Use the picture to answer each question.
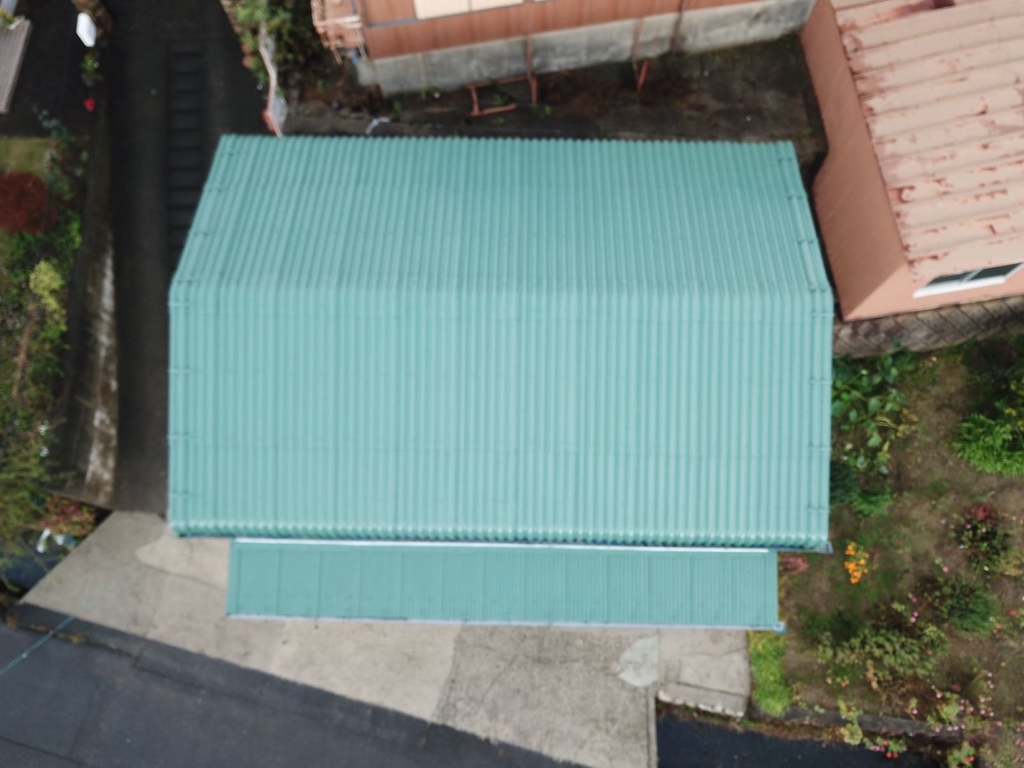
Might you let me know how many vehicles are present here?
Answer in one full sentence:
No vehicles are visible.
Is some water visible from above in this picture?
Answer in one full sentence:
No, water can't be seen anywhere here.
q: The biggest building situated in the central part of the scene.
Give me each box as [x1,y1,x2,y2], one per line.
[166,135,836,553]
